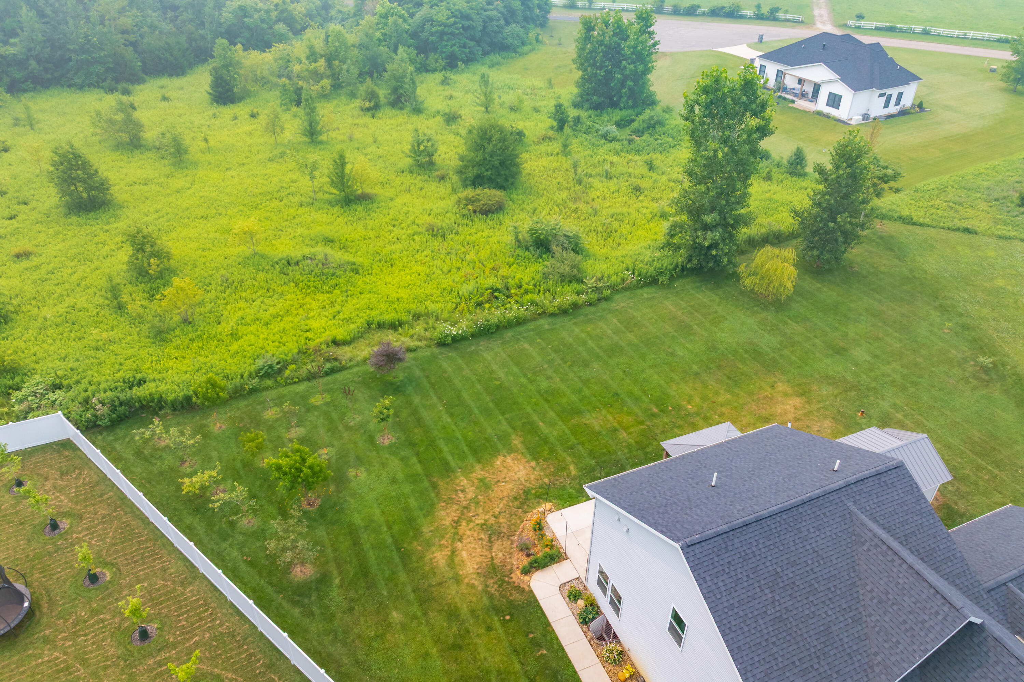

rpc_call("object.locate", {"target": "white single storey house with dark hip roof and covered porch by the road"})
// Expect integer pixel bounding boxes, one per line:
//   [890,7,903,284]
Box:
[755,33,924,119]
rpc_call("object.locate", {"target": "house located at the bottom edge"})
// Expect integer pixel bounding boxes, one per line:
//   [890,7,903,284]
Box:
[581,418,1024,682]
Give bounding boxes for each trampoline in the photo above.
[0,565,39,647]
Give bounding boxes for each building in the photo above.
[755,33,924,119]
[581,418,1024,682]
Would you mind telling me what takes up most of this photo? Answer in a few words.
grass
